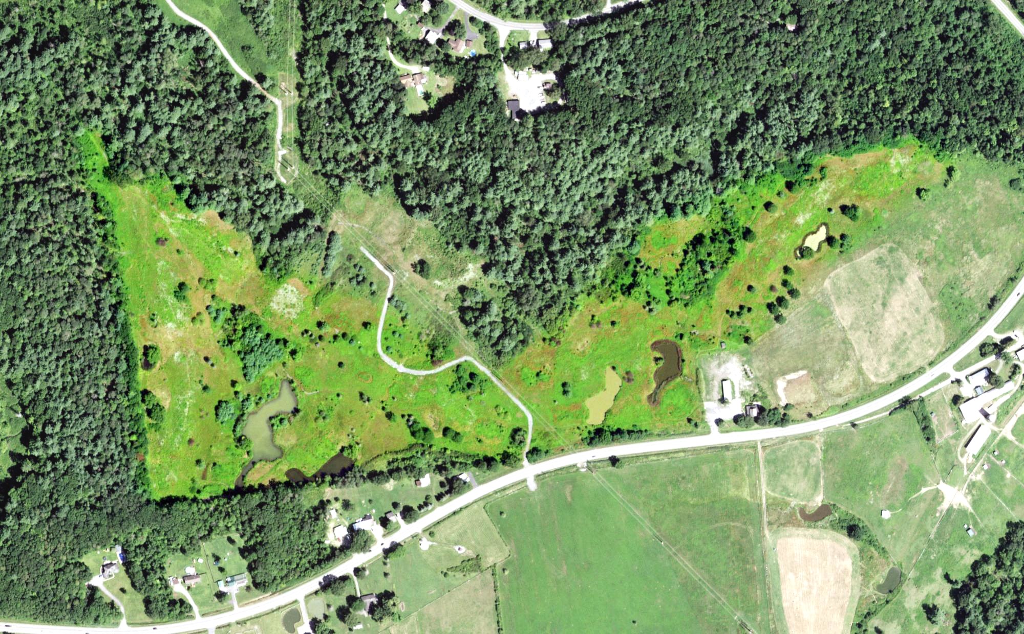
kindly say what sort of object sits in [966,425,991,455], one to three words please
barn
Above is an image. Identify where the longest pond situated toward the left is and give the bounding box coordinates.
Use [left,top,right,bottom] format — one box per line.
[245,381,297,462]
